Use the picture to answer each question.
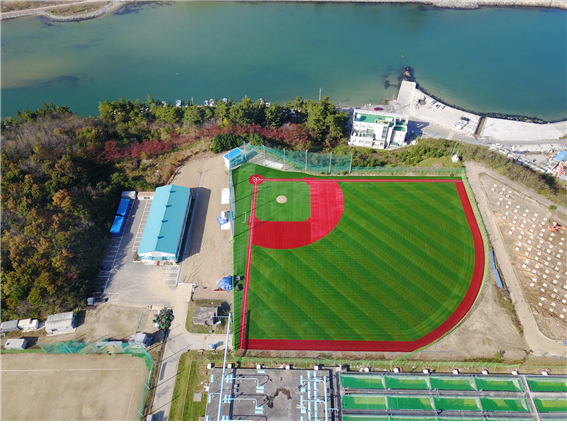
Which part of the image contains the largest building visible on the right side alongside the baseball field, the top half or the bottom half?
top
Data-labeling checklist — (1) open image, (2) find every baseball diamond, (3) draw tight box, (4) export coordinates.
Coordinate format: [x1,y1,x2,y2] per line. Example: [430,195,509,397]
[231,161,486,351]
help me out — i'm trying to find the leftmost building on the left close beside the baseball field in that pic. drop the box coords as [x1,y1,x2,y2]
[136,184,193,266]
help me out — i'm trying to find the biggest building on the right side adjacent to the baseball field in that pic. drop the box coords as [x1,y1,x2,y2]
[349,108,405,149]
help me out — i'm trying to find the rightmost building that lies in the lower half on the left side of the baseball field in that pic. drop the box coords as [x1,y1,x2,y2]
[194,308,218,326]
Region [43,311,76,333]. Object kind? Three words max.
shed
